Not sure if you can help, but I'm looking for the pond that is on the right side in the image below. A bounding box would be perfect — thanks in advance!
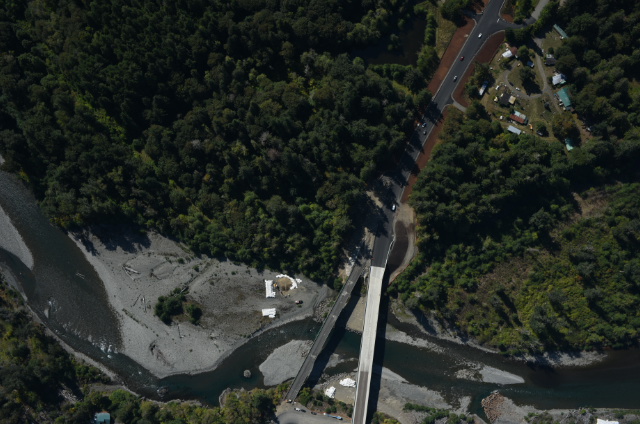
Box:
[350,13,427,68]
